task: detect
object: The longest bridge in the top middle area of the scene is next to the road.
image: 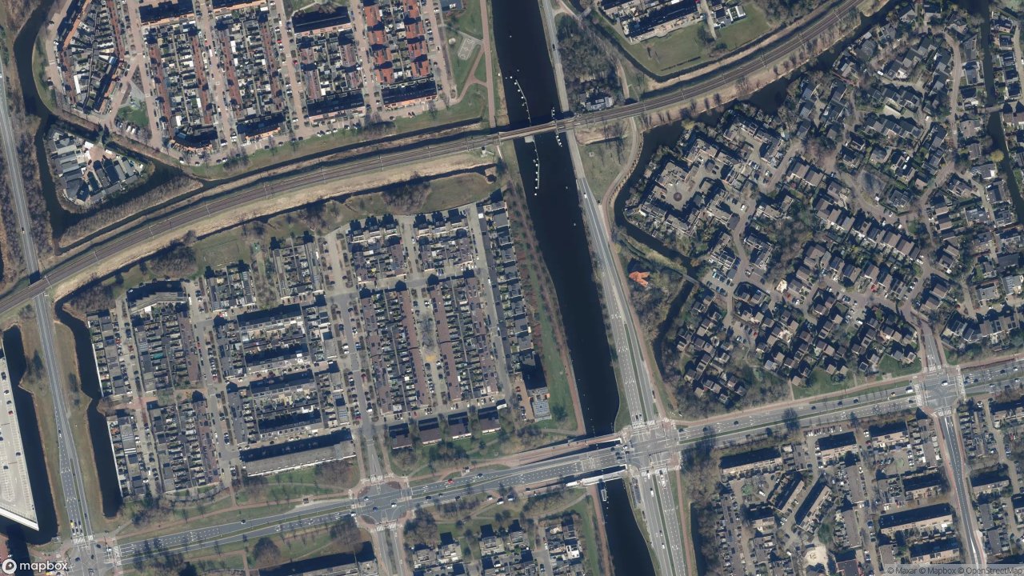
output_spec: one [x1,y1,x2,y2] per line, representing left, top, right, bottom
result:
[497,114,575,145]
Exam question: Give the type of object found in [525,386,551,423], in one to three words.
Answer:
building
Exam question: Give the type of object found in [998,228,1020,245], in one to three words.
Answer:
house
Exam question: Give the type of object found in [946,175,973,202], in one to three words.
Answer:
house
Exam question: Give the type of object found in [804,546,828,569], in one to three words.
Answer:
playground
